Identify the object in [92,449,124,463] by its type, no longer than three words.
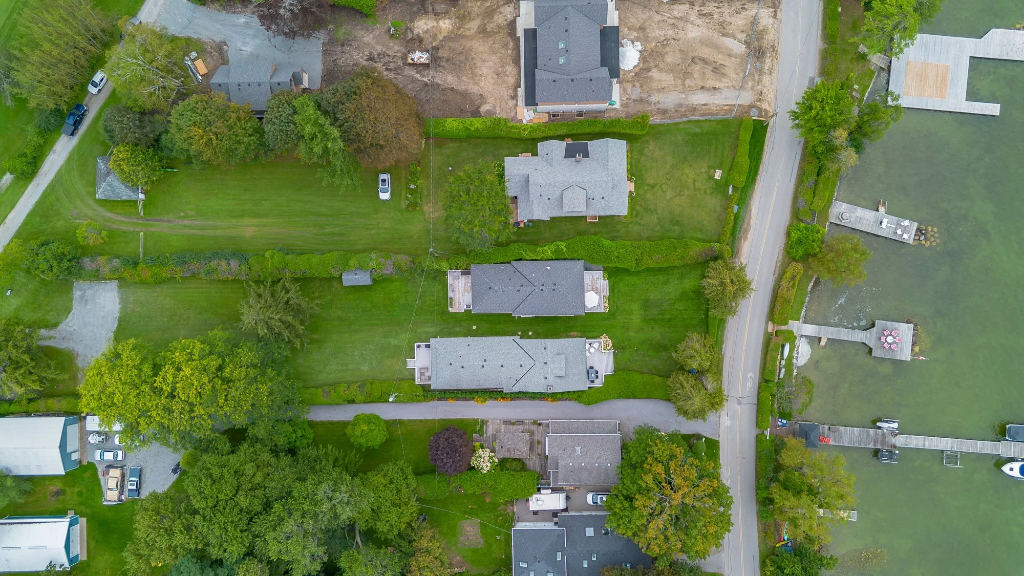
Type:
car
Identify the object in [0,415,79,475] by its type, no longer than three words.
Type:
barn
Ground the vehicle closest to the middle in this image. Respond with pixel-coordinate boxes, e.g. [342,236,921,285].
[376,171,391,201]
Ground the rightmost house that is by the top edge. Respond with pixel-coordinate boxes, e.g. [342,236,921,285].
[517,0,620,120]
